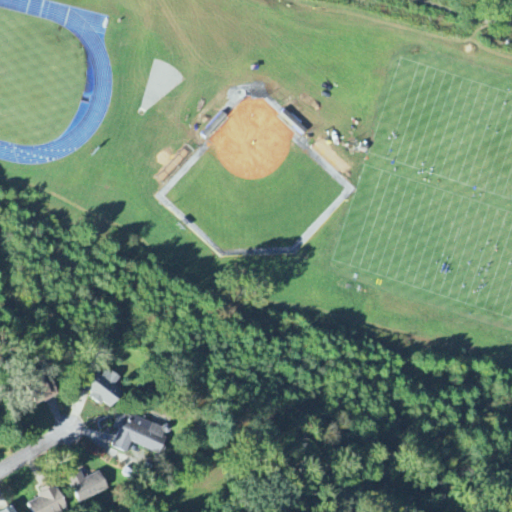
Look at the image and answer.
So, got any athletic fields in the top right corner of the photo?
Yes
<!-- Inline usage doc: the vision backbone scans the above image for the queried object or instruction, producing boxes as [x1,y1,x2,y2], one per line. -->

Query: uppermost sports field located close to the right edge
[366,55,512,200]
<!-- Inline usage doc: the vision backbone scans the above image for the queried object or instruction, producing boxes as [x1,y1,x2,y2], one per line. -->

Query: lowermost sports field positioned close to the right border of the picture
[330,162,512,319]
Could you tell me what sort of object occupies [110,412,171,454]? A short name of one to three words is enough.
house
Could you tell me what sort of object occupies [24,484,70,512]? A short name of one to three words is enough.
house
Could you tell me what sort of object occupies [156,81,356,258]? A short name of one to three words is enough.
baseball field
